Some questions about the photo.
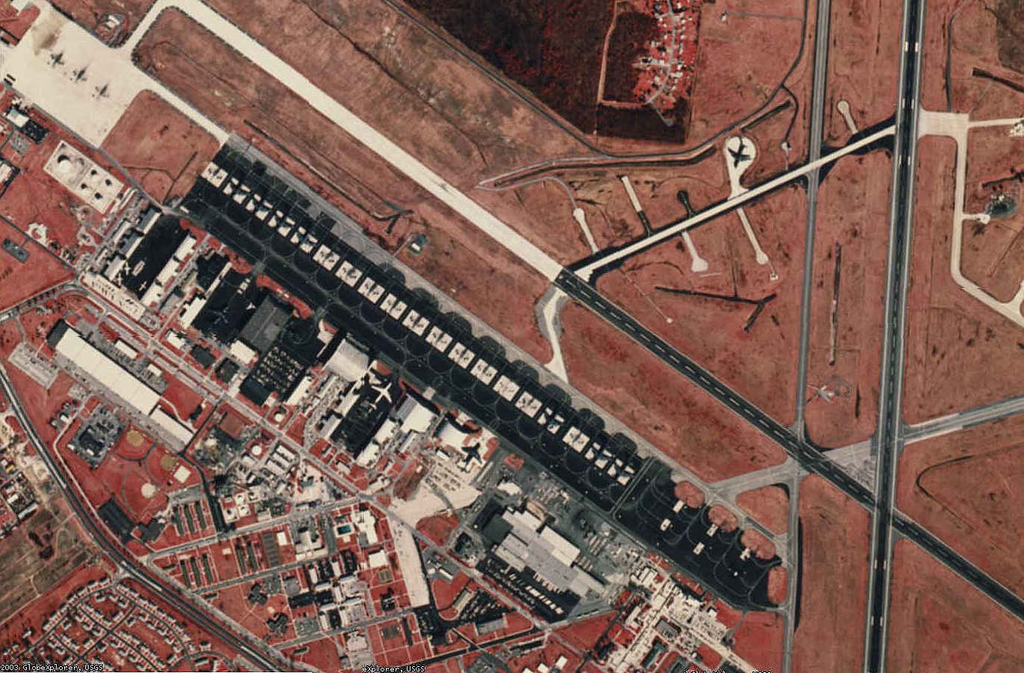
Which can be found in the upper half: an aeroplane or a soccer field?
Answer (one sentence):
What appears in the upper half is an aeroplane.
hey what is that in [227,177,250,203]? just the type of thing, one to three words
airplane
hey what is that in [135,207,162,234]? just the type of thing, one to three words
hangar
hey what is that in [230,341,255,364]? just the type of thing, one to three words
building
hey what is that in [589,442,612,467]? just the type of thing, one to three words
airplane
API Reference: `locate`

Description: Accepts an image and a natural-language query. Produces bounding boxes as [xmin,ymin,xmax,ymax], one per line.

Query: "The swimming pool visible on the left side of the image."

[335,525,354,537]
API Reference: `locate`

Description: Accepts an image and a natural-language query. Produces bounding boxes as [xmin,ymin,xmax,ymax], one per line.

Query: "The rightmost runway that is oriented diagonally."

[554,268,1024,621]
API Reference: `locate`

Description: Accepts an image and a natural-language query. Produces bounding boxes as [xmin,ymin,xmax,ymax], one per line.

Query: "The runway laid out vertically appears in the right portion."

[863,0,926,673]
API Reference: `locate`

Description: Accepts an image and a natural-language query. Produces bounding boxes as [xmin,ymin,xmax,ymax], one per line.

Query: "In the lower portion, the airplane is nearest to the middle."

[544,408,567,434]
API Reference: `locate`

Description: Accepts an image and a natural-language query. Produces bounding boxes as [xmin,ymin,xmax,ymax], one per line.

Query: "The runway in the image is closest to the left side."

[176,0,563,281]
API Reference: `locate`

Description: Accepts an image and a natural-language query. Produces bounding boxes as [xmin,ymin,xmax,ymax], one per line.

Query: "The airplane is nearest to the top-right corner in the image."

[729,142,751,168]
